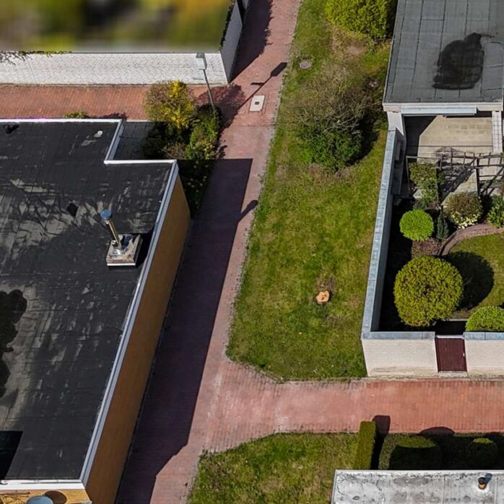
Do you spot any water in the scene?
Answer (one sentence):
No, water can't be seen anywhere here.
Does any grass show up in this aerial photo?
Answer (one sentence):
Yes, grass can be seen from above here.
